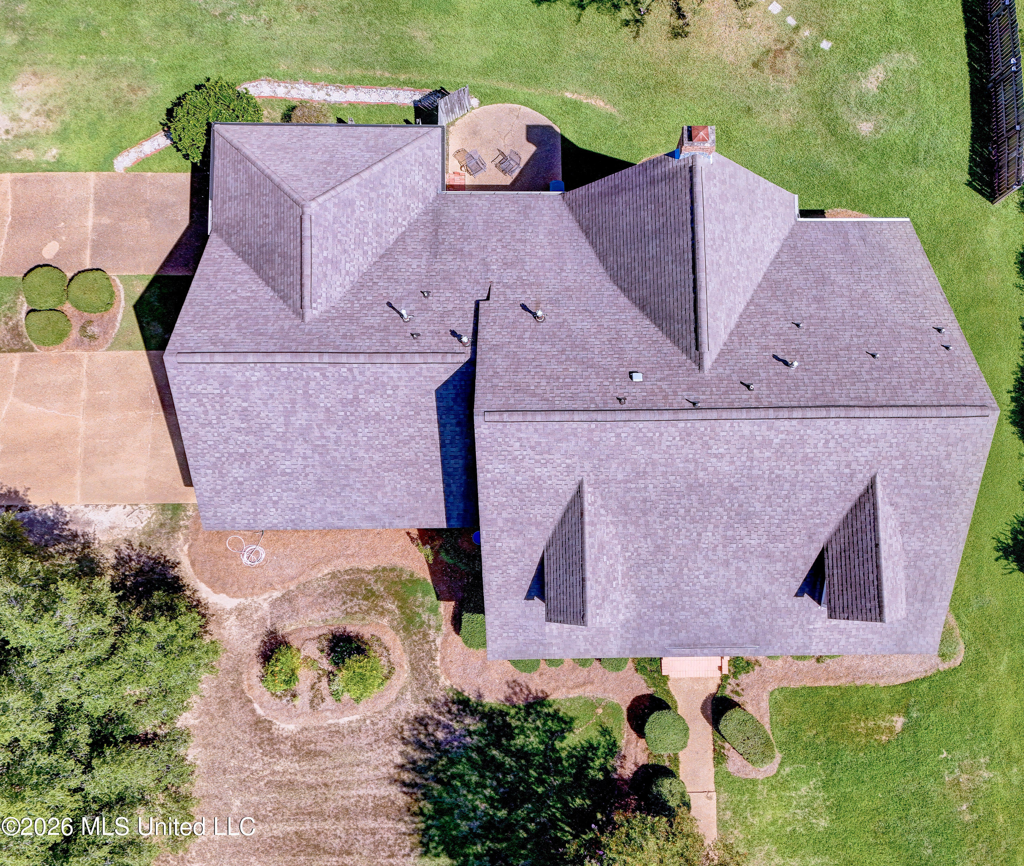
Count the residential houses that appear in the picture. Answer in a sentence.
The count comes to 1 residential house.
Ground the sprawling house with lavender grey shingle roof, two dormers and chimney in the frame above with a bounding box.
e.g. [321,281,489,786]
[164,120,1000,661]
